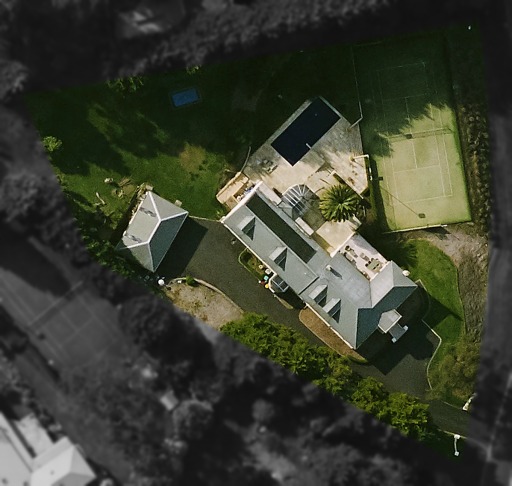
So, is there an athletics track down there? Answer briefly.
No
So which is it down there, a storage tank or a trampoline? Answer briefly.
trampoline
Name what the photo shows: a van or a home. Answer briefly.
home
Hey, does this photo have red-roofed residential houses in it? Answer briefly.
No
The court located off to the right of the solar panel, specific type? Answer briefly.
tennis court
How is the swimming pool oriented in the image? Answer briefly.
at an angle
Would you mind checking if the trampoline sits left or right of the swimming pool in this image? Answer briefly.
to its left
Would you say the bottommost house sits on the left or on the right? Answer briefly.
left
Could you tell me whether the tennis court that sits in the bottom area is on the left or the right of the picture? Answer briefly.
left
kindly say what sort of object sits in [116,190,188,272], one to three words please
building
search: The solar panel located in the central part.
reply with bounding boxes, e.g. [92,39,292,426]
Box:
[246,194,317,264]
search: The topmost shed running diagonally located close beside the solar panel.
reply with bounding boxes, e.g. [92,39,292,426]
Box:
[216,172,248,203]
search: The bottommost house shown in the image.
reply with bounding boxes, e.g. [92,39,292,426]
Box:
[0,410,96,486]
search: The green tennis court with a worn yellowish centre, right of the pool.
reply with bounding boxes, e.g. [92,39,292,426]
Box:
[352,30,472,233]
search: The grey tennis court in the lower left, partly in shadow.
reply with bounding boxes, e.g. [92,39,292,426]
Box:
[0,226,128,385]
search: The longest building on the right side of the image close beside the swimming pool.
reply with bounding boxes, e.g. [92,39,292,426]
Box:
[222,182,418,350]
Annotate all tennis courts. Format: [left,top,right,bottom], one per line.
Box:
[352,30,472,233]
[0,226,128,385]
